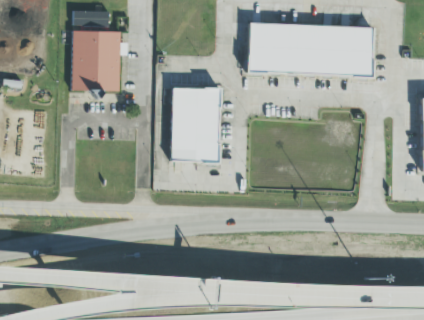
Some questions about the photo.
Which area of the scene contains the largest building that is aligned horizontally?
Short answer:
top right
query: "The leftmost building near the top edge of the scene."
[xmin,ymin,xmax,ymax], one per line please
[70,12,129,98]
